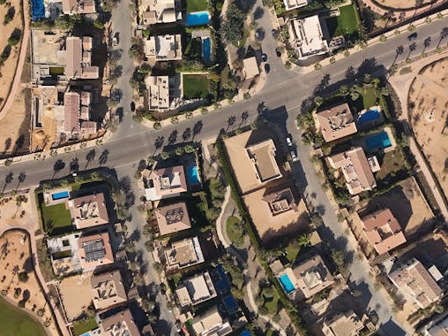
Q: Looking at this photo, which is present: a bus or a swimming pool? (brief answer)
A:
swimming pool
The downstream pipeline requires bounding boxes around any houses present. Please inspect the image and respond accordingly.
[177,267,216,308]
[321,305,376,336]
[146,35,182,61]
[284,0,314,10]
[150,74,179,109]
[57,36,102,81]
[290,17,343,61]
[326,143,382,191]
[143,0,182,24]
[248,136,281,182]
[429,309,448,336]
[141,164,188,201]
[78,227,115,266]
[264,183,307,217]
[385,250,447,308]
[43,86,99,135]
[360,207,406,254]
[192,304,235,336]
[53,0,98,14]
[156,199,191,235]
[167,233,205,269]
[73,190,110,229]
[100,303,142,336]
[292,253,334,298]
[316,103,358,141]
[90,265,130,311]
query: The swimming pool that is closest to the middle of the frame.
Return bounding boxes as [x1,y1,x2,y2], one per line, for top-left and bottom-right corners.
[188,162,201,185]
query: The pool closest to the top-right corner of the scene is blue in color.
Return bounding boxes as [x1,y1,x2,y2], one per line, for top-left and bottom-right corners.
[362,108,385,127]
